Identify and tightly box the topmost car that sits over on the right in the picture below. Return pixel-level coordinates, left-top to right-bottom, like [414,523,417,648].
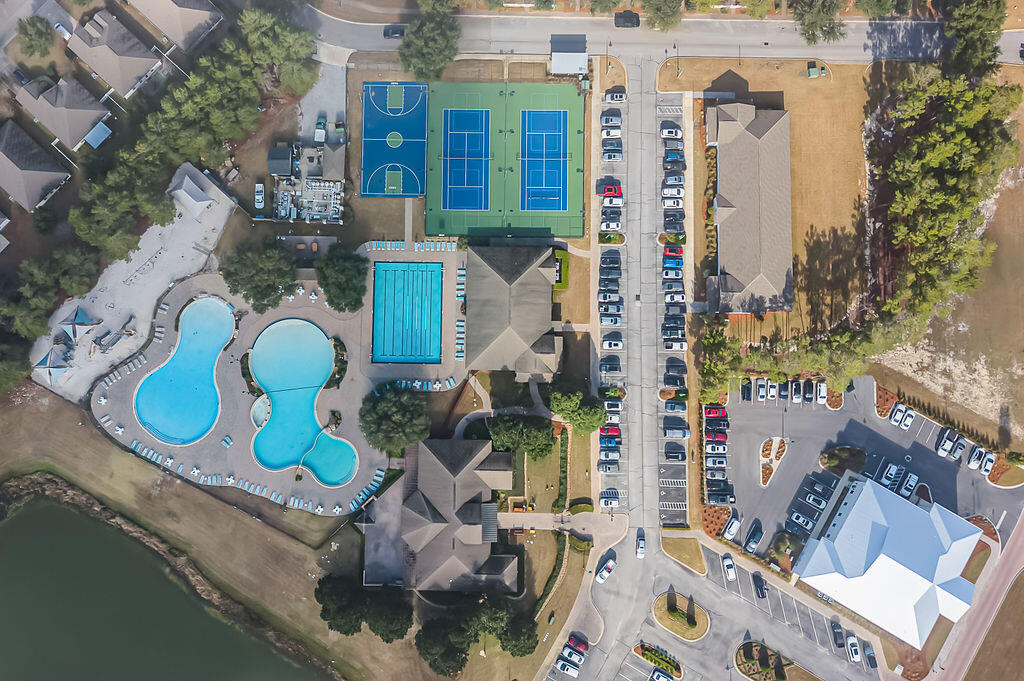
[616,14,639,26]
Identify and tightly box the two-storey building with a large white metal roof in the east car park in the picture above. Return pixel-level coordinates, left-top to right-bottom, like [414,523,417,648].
[785,479,983,650]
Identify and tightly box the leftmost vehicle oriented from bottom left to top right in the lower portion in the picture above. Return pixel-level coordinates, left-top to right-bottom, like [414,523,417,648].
[596,560,616,584]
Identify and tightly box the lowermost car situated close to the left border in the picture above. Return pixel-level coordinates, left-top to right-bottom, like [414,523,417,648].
[12,67,32,86]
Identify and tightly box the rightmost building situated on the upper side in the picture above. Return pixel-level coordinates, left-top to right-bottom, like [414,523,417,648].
[703,100,791,314]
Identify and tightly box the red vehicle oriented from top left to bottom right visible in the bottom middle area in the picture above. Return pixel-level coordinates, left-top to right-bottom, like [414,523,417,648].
[569,637,589,654]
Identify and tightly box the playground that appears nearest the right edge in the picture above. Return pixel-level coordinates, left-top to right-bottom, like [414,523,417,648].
[84,315,135,357]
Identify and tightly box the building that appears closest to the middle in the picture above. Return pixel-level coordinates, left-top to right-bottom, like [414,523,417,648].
[466,247,563,383]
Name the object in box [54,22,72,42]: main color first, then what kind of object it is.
white car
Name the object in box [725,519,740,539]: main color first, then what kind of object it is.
white car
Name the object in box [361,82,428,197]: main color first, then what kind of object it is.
blue basketball court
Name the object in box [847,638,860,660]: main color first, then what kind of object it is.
white vehicle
